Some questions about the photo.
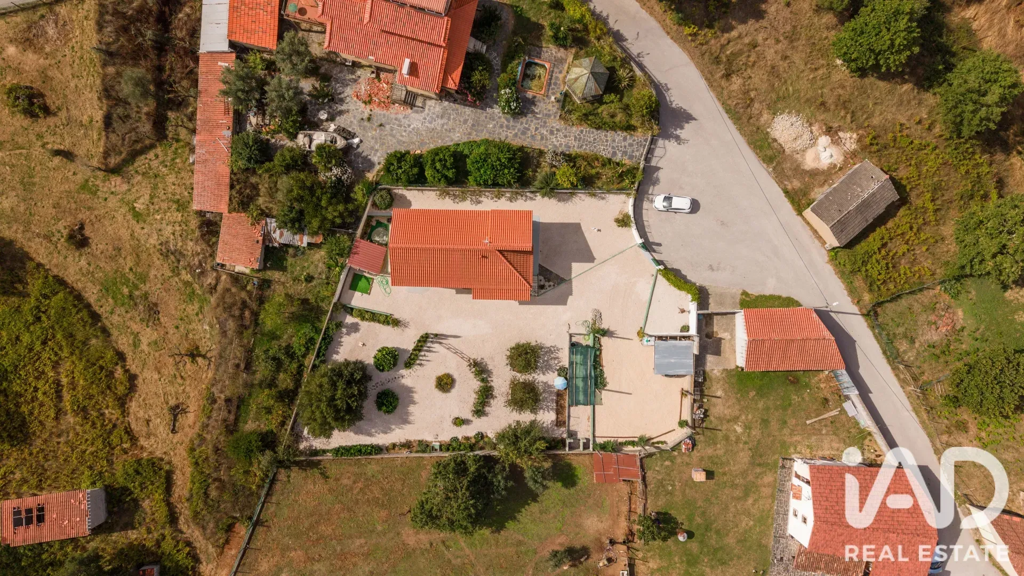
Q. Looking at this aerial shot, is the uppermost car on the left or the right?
right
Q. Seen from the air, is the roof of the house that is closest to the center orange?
Yes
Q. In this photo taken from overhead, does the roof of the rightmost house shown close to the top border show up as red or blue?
red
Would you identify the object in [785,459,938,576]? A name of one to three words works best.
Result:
house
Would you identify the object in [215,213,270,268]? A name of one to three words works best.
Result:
shed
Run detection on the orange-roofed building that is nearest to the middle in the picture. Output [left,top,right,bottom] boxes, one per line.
[389,209,540,302]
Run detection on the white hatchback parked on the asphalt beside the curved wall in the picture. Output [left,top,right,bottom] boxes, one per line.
[655,193,694,214]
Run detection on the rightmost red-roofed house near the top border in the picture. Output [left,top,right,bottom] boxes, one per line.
[286,0,487,106]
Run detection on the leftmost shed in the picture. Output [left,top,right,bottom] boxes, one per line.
[0,483,106,545]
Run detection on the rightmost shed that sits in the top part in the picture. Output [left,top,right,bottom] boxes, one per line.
[806,160,900,247]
